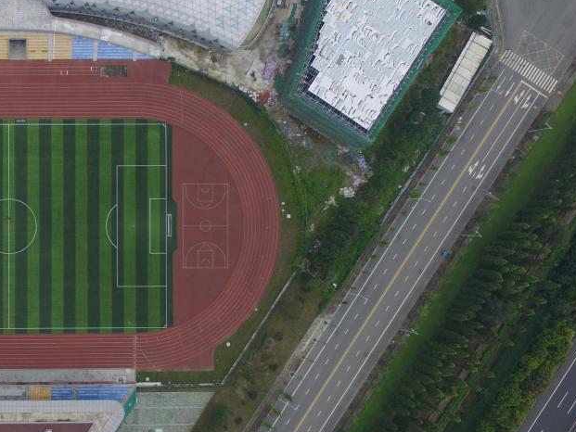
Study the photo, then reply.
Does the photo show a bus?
No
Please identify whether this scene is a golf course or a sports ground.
sports ground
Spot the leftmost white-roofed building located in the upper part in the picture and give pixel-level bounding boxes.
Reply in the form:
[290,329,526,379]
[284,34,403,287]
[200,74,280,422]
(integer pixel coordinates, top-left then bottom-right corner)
[279,0,461,145]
